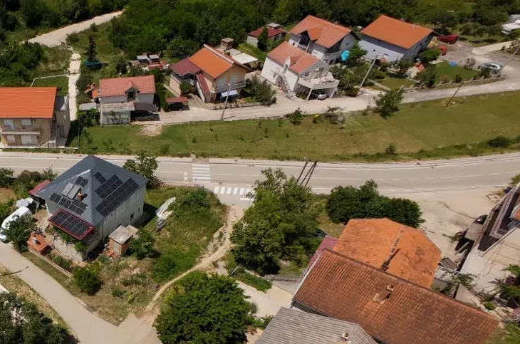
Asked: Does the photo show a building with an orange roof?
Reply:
Yes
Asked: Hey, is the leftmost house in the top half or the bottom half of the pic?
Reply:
top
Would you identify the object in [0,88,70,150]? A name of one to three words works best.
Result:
house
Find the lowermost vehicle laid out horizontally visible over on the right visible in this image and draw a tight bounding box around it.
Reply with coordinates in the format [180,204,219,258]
[307,88,333,100]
